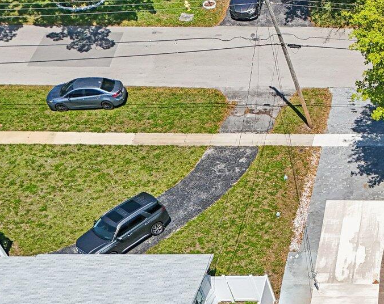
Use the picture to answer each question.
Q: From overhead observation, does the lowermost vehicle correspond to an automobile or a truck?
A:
automobile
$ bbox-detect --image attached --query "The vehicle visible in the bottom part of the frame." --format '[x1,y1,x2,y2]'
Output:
[69,187,175,254]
